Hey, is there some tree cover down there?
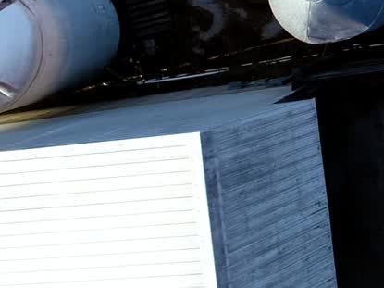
No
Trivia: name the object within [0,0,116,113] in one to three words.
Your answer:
silo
